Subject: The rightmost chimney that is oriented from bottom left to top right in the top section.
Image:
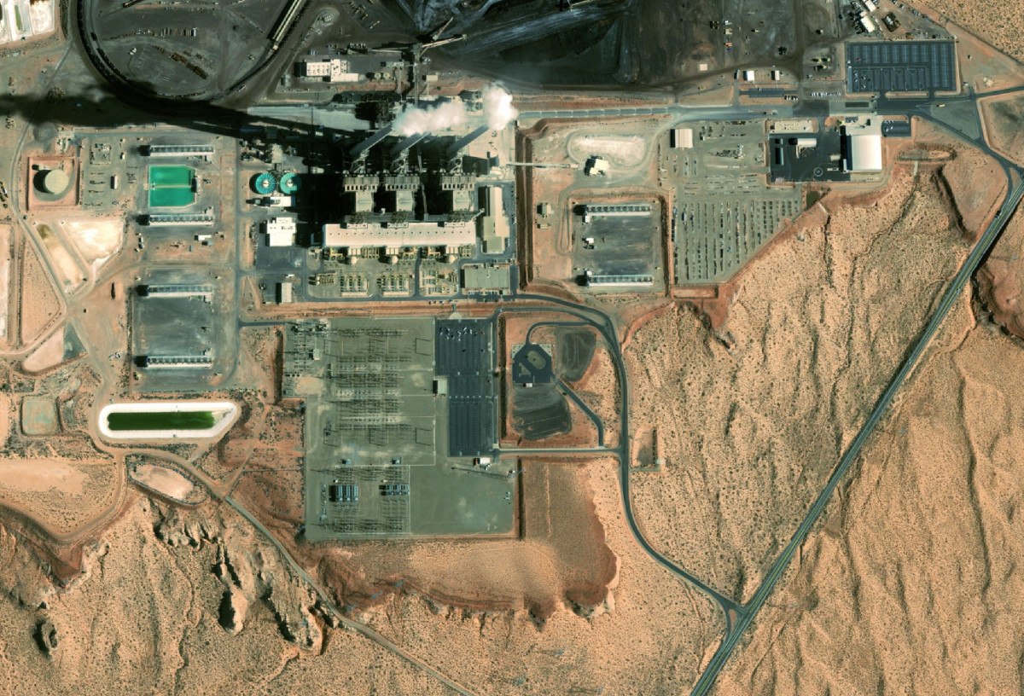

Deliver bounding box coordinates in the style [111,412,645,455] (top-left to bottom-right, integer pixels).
[441,123,491,158]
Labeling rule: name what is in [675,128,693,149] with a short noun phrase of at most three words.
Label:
shed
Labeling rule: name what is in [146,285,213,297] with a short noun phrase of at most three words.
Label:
cooling tower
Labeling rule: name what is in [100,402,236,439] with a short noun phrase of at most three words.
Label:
pond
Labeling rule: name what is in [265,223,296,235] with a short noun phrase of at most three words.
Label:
building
